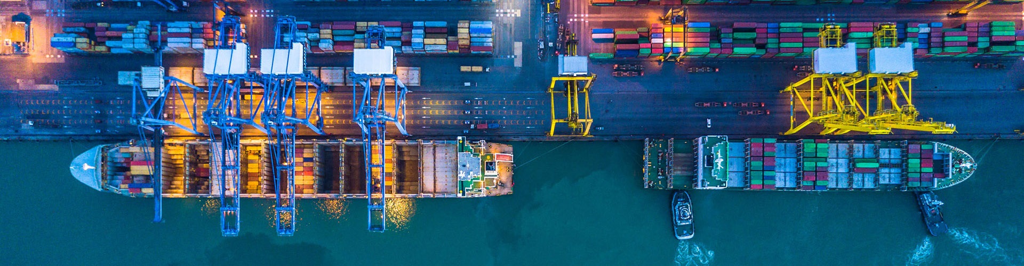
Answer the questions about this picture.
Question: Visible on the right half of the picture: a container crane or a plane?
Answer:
container crane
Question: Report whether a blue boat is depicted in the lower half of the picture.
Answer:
Yes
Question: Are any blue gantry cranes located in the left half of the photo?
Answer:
Yes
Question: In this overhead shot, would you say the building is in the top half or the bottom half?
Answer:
top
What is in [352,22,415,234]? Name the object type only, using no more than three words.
container crane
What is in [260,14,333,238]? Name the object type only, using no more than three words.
container crane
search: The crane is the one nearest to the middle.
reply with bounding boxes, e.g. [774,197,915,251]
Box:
[542,33,593,135]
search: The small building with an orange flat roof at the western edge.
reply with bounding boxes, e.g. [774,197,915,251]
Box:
[5,21,36,55]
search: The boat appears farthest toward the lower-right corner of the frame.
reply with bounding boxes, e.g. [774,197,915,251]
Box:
[916,191,946,238]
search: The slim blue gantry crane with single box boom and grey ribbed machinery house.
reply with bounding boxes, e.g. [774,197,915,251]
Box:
[127,23,210,221]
